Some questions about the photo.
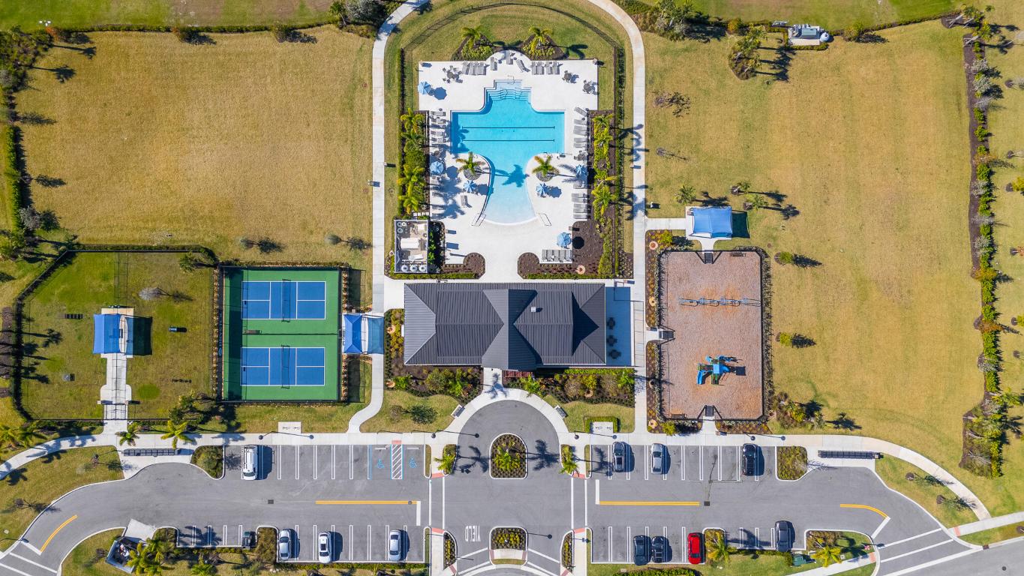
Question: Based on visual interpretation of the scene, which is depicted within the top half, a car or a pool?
pool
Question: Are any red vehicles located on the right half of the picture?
Yes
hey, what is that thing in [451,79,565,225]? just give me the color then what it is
blue swimming pool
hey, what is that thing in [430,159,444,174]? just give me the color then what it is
blue umbrella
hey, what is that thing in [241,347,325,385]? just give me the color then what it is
blue sports court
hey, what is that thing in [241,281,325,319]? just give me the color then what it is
blue sports court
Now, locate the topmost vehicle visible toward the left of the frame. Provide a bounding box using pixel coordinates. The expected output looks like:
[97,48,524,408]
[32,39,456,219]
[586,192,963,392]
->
[242,444,260,480]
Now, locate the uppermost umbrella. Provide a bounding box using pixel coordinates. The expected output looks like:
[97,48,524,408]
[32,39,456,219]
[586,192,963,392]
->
[418,81,431,95]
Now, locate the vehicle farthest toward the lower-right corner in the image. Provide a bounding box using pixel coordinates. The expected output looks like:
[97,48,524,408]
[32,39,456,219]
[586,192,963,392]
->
[775,519,790,552]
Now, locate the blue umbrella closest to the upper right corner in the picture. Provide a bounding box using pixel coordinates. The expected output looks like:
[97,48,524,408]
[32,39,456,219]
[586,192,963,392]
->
[574,163,588,177]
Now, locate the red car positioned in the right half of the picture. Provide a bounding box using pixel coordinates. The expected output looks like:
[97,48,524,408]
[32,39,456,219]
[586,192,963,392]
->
[687,531,703,563]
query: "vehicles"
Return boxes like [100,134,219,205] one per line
[242,444,260,480]
[741,442,757,475]
[318,531,333,563]
[612,440,626,472]
[775,519,790,552]
[388,529,402,561]
[278,528,293,561]
[237,530,250,549]
[633,533,647,564]
[687,531,703,563]
[650,442,664,474]
[651,534,666,563]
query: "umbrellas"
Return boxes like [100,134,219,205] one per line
[574,163,588,177]
[558,232,571,246]
[462,178,476,192]
[418,81,431,95]
[430,159,444,174]
[534,182,549,196]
